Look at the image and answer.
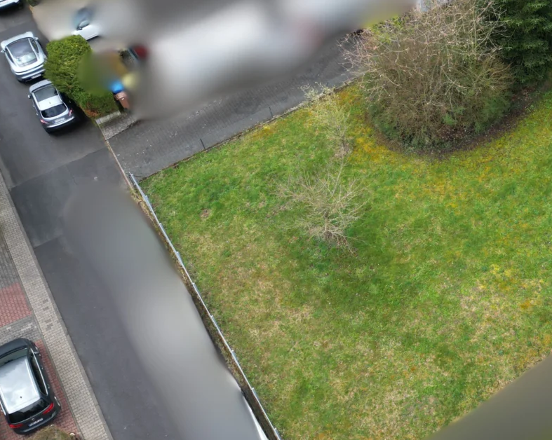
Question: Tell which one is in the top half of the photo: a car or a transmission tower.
car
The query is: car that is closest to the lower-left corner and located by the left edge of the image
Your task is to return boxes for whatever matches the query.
[0,338,56,438]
